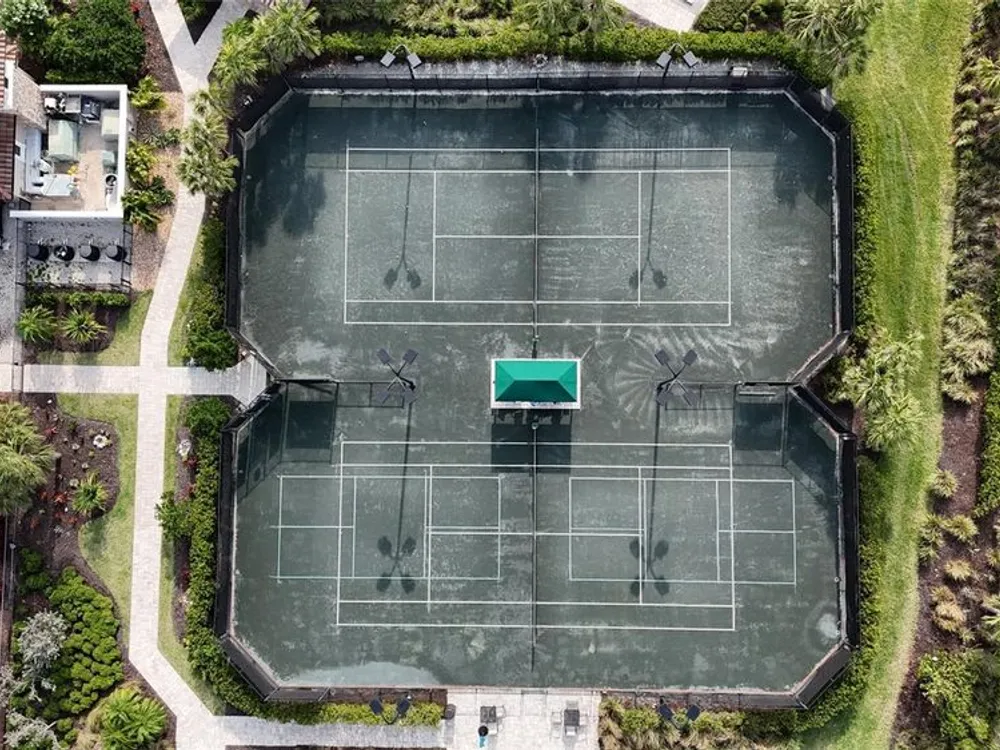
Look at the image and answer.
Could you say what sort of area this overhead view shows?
sports ground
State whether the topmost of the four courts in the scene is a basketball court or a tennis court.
tennis court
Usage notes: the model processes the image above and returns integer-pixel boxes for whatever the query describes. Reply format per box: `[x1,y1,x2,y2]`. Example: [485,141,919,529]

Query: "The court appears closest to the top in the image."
[242,93,837,382]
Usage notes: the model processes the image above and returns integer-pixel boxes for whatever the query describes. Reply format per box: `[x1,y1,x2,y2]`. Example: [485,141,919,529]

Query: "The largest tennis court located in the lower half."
[233,379,843,690]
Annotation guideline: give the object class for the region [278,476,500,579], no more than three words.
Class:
sports court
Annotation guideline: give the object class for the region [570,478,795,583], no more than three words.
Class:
sports court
